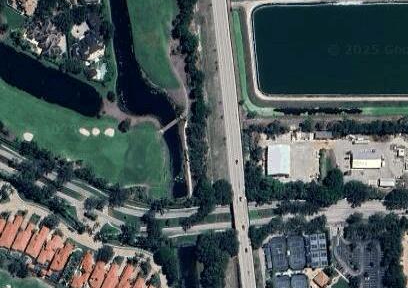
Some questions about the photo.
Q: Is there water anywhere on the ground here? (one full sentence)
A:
Yes, water can be seen from above here.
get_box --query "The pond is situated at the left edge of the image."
[0,44,100,114]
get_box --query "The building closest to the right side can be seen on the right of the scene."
[352,148,381,168]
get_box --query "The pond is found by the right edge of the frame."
[253,3,408,95]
